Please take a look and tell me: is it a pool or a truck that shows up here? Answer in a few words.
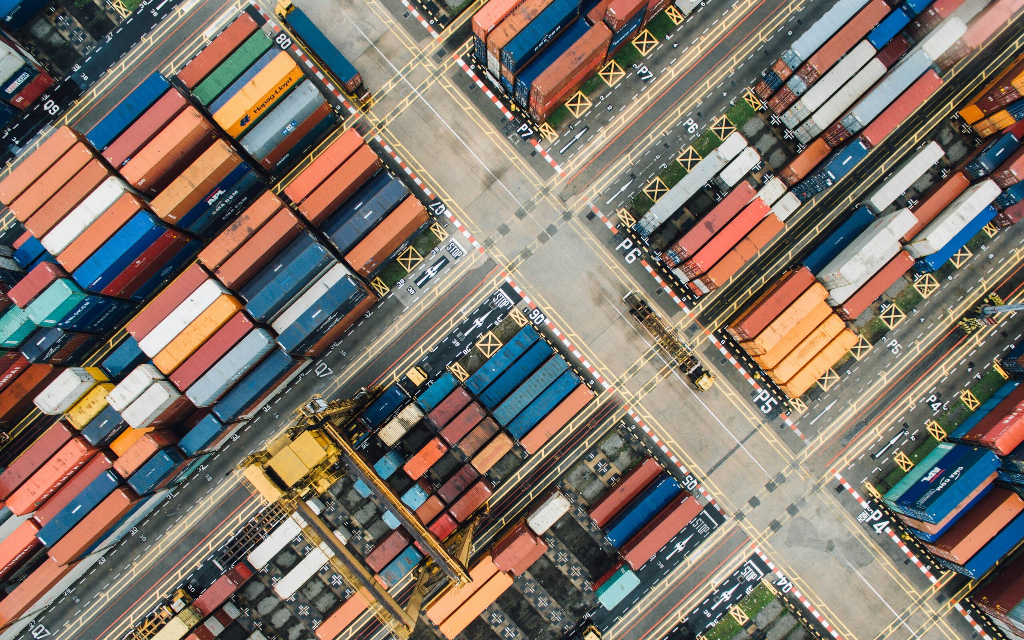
truck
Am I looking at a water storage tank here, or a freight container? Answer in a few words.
freight container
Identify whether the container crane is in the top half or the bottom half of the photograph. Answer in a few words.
bottom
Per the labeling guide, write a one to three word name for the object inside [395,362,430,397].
truck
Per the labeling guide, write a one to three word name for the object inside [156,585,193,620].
truck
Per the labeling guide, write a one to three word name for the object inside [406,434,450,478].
shipping container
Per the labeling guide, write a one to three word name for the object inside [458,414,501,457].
shipping container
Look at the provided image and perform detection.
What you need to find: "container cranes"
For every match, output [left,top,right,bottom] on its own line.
[241,377,500,640]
